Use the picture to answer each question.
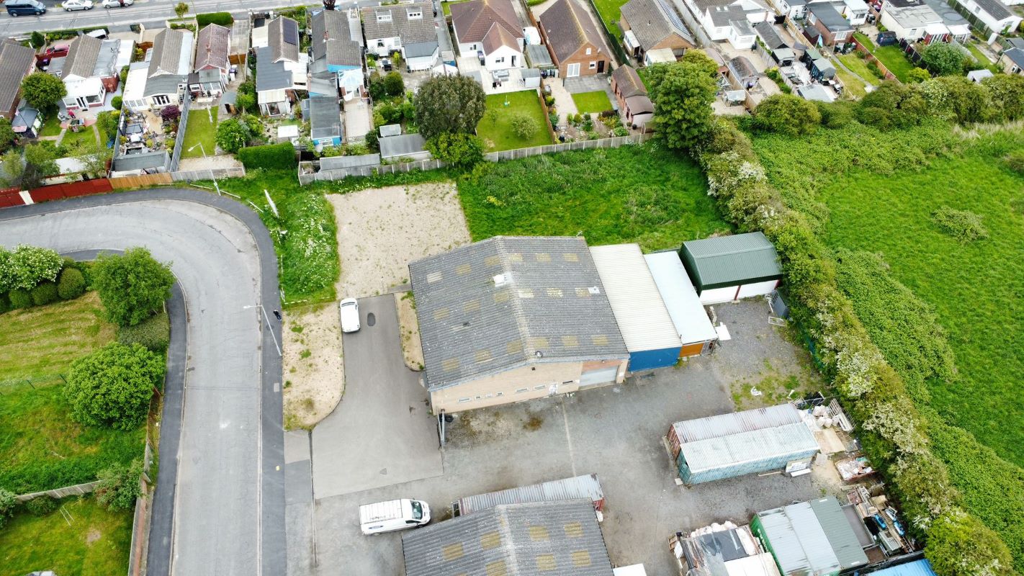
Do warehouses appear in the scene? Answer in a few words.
Yes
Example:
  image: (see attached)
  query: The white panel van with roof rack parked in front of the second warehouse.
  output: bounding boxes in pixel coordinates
[359,496,429,535]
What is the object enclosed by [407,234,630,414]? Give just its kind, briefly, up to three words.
warehouse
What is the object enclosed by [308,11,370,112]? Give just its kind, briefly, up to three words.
house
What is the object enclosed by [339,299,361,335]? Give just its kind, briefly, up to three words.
car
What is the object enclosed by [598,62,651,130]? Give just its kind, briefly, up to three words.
building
